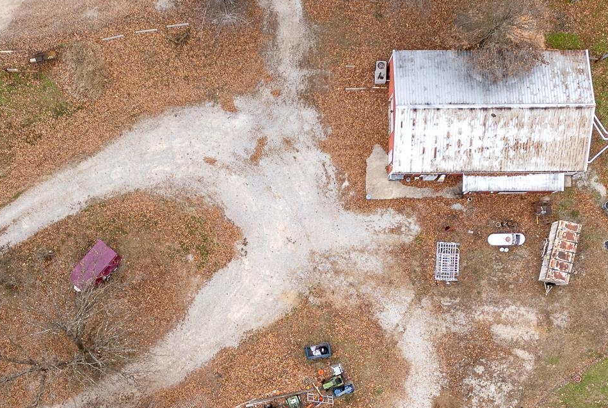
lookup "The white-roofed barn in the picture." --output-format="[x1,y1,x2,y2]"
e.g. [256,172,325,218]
[388,50,597,195]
